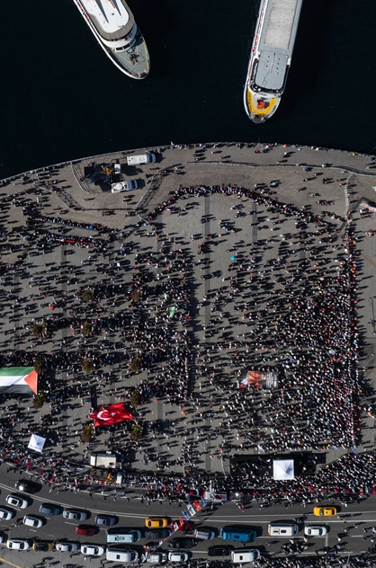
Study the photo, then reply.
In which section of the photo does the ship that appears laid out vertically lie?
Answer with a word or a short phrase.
top right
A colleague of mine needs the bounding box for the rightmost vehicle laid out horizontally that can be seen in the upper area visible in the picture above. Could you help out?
[124,152,157,165]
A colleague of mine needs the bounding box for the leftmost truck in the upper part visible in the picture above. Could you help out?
[81,158,122,188]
